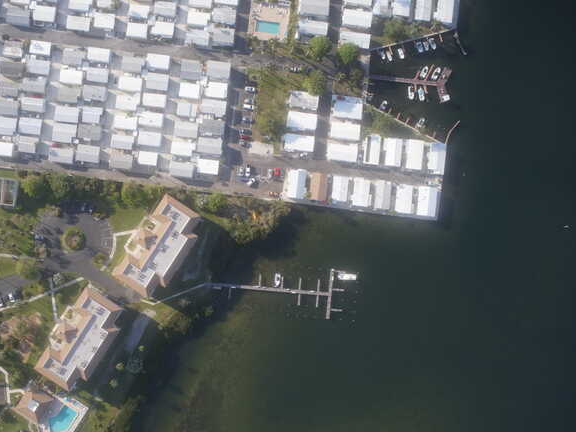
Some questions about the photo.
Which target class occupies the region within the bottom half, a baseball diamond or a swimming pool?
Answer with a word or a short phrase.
swimming pool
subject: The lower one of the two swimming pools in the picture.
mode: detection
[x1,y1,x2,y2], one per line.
[36,396,87,432]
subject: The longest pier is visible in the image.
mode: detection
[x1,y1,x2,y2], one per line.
[203,269,345,320]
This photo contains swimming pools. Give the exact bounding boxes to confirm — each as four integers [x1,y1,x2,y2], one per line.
[36,396,87,432]
[249,0,290,39]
